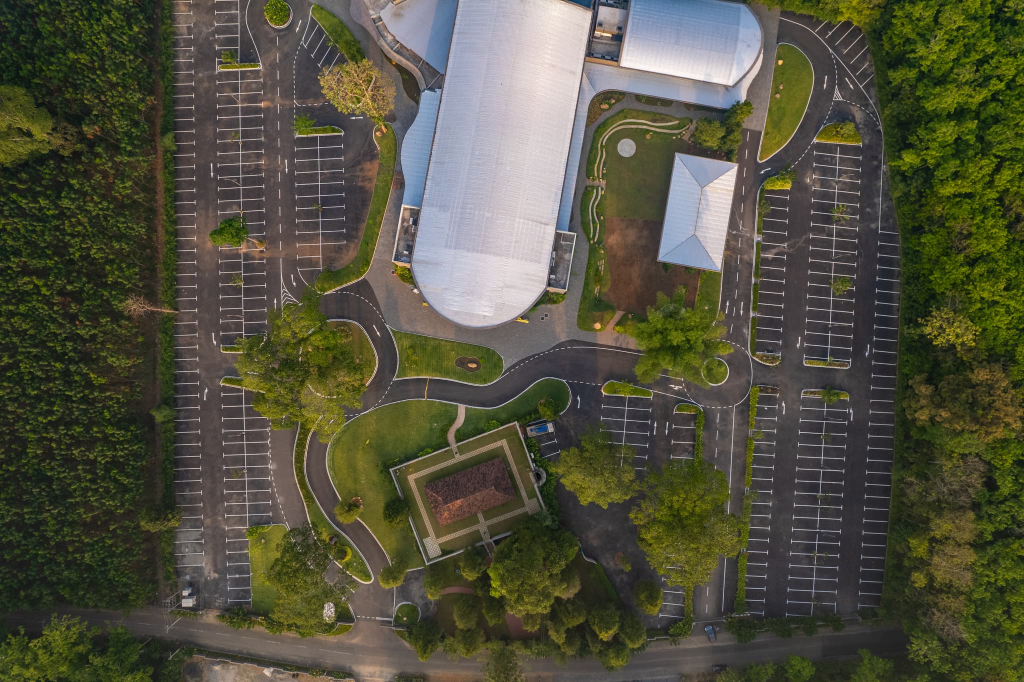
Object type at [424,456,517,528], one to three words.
house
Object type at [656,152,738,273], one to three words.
building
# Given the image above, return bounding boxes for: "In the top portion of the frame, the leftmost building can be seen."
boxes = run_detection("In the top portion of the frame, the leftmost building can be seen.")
[362,0,596,330]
